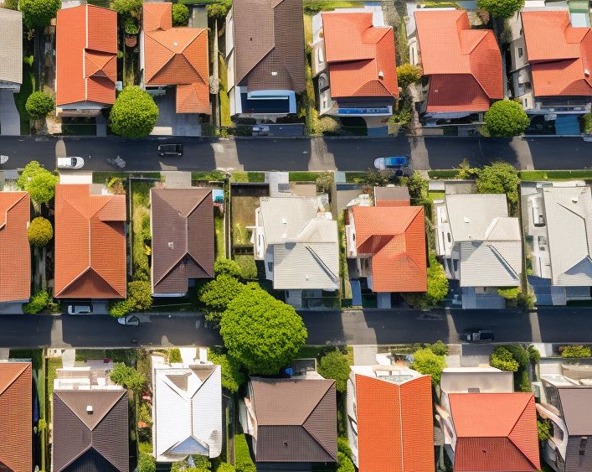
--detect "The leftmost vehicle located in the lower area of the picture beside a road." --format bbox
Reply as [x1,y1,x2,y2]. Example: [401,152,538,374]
[66,301,91,315]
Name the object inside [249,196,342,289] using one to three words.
house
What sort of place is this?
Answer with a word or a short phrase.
residential area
